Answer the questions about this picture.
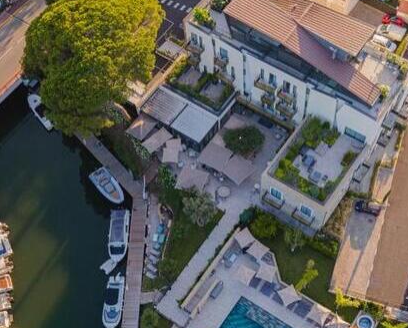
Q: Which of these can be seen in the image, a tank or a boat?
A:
boat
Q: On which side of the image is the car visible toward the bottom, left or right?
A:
right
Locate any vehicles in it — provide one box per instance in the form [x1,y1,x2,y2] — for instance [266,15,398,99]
[378,22,408,45]
[355,198,384,218]
[380,13,406,26]
[370,29,399,54]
